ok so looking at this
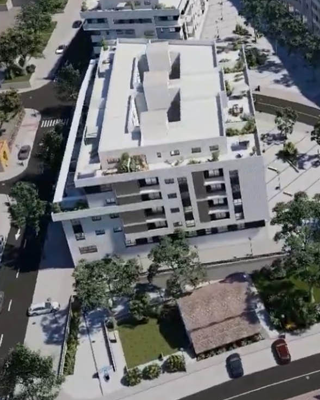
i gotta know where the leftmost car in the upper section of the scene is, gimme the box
[16,145,33,159]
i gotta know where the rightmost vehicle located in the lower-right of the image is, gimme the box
[271,337,294,363]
